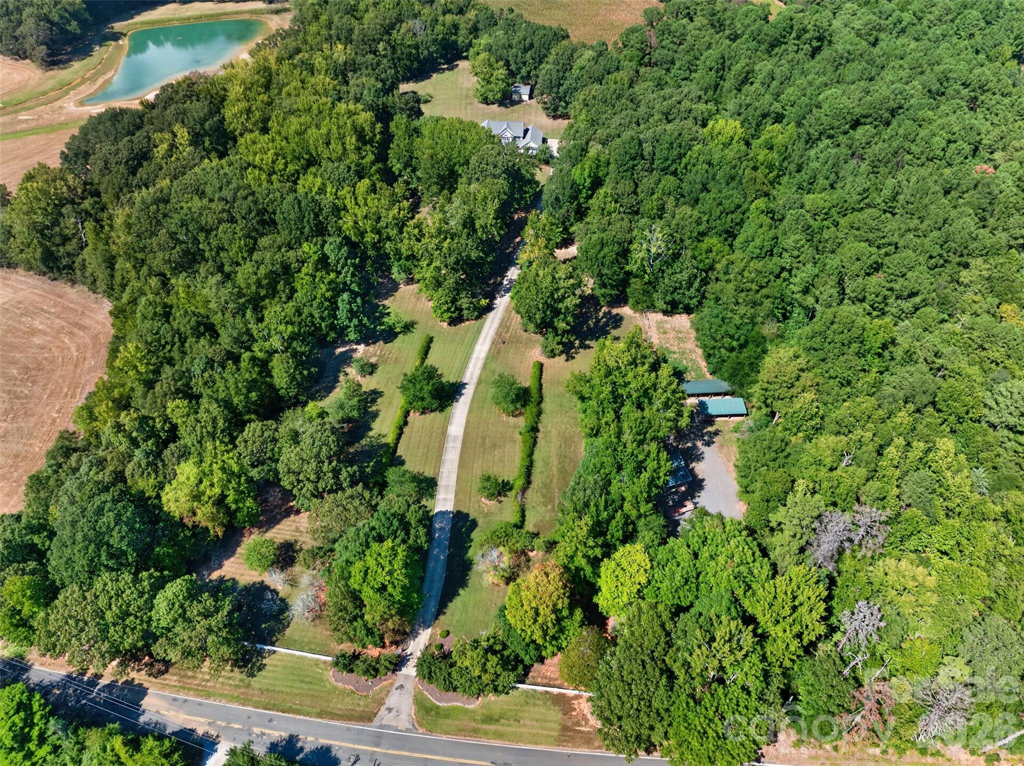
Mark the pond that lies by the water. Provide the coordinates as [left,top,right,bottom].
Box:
[79,17,273,105]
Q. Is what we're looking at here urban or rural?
rural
